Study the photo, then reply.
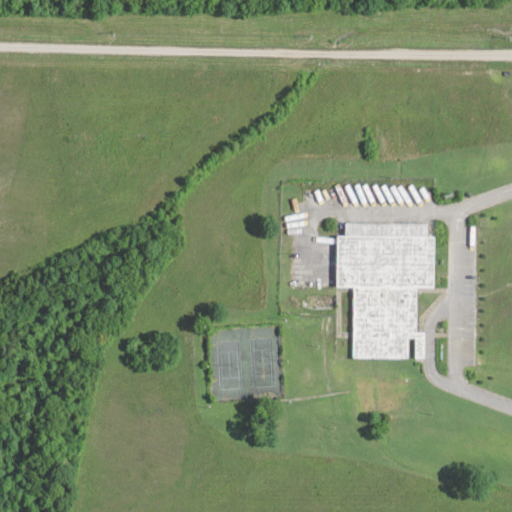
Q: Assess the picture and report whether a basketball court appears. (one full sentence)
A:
No, I find no basketball court anywhere in the image.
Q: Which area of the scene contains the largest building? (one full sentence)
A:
Look in the right portion of the view to spot the largest building.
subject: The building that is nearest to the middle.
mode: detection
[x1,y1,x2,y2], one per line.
[336,223,436,360]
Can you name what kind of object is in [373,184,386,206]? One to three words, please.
vehicle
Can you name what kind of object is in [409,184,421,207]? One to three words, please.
vehicle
